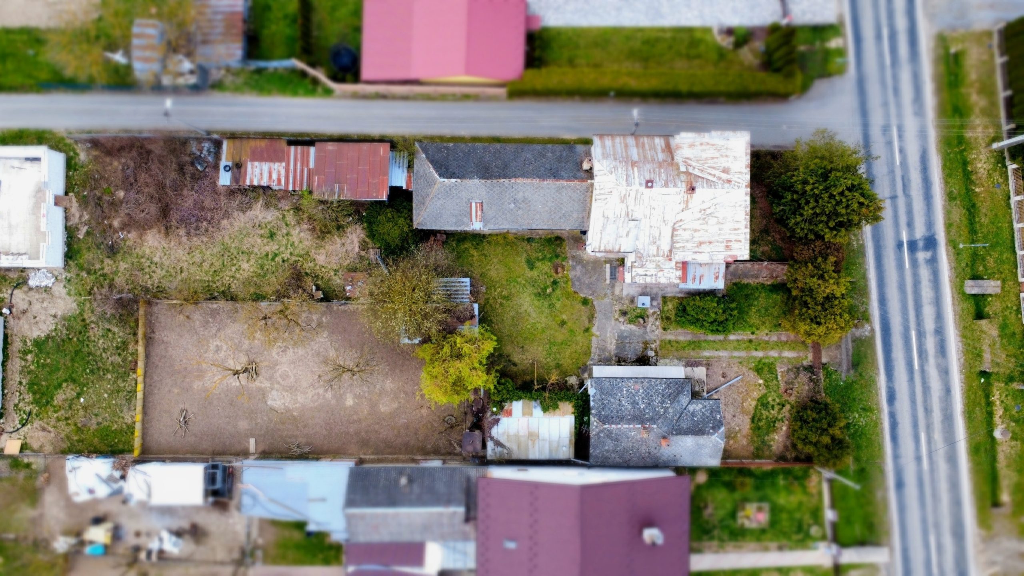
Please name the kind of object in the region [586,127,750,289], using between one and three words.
house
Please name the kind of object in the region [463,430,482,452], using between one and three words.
shed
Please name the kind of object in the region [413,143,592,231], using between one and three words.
house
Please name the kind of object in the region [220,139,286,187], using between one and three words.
shed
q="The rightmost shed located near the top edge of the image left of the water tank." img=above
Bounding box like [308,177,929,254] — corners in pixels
[197,0,253,76]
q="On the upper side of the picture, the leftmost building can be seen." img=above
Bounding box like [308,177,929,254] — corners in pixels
[0,146,67,267]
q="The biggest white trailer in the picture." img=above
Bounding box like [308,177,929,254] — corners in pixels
[148,461,213,505]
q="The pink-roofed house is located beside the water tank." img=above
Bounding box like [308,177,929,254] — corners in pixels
[360,0,541,91]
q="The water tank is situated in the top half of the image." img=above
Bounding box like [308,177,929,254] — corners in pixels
[330,46,358,75]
